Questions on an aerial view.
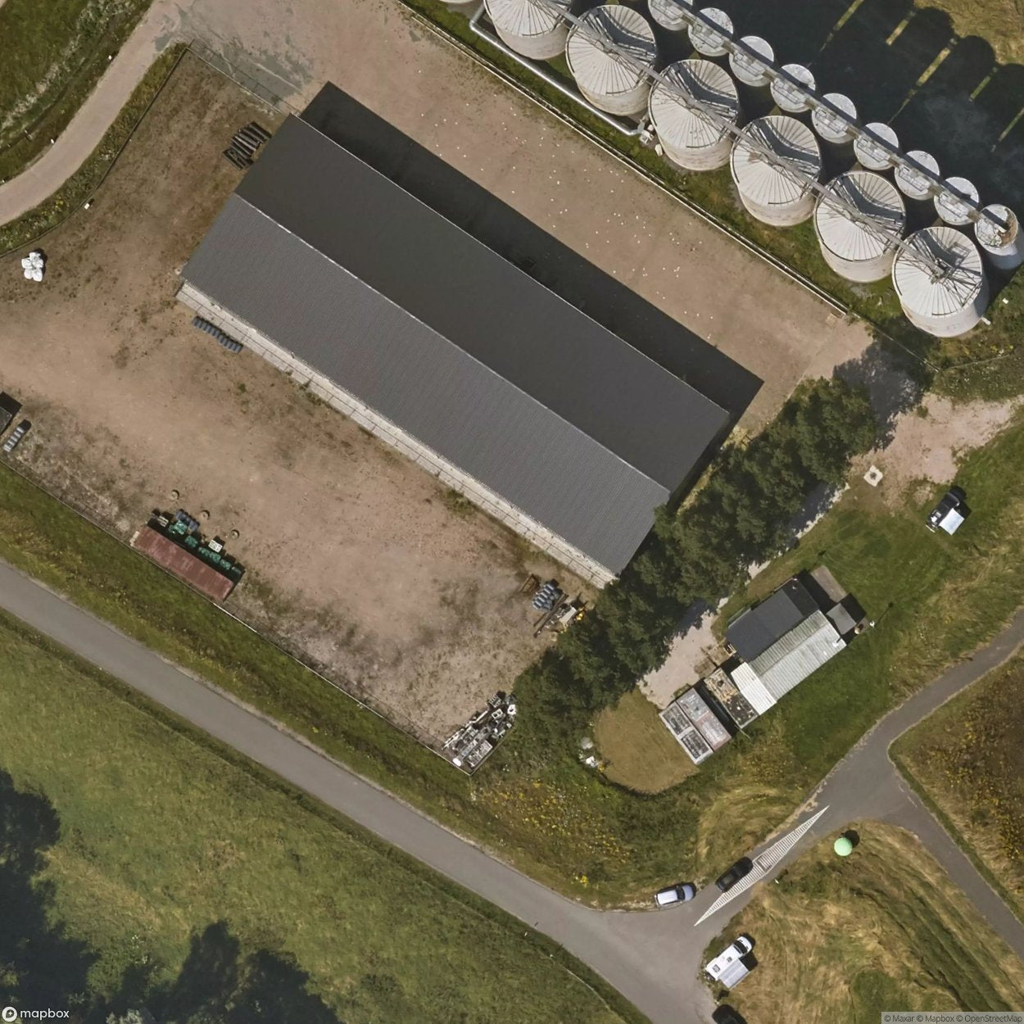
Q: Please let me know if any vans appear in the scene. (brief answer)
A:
Yes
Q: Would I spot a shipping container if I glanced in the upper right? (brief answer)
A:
No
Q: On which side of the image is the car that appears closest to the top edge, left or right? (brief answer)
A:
right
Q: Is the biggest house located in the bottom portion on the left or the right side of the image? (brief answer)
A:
right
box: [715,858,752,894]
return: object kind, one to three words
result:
car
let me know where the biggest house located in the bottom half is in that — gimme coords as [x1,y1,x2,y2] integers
[725,577,846,701]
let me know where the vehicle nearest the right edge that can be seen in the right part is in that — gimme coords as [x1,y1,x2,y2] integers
[923,490,963,536]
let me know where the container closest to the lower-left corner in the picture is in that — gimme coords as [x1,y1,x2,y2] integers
[133,526,236,603]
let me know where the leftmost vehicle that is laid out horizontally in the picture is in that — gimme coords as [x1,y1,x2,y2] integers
[655,886,695,909]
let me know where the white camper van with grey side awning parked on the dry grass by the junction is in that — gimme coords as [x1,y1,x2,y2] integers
[704,937,753,994]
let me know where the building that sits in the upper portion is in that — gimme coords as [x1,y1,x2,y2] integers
[181,115,728,577]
